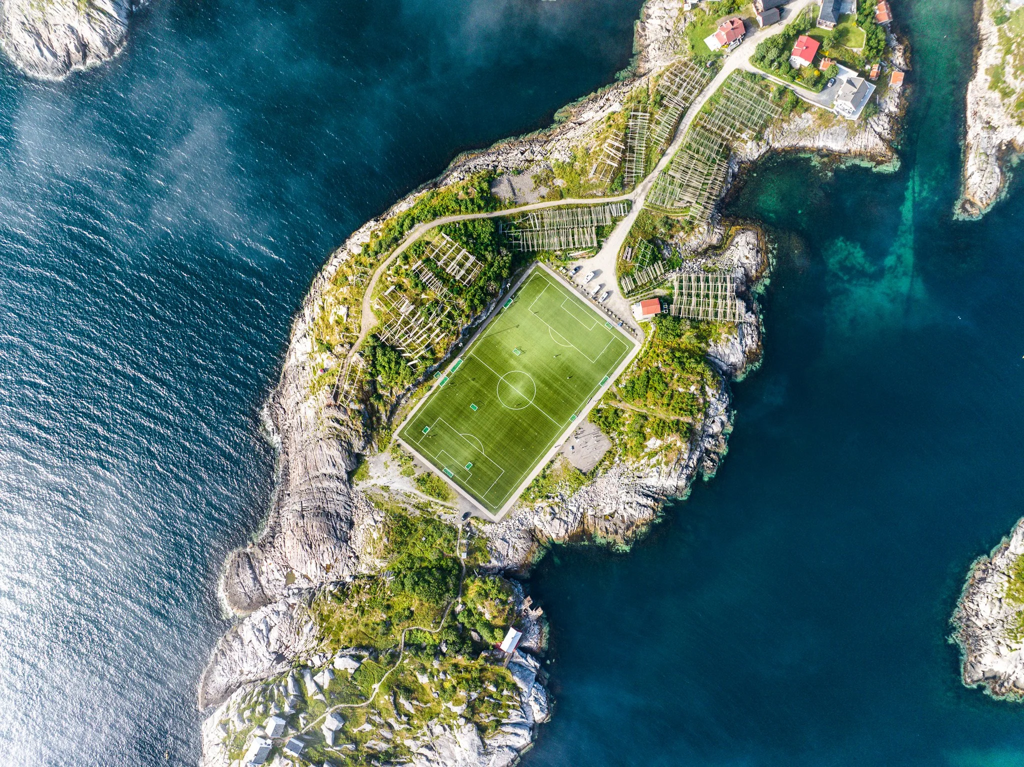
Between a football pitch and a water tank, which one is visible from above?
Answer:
football pitch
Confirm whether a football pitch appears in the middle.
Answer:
Yes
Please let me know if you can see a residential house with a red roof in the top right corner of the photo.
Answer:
Yes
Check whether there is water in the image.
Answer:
Yes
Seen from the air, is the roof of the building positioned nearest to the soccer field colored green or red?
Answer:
red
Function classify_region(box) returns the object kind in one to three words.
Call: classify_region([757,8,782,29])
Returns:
building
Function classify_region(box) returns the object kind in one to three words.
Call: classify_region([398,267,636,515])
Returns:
soccer field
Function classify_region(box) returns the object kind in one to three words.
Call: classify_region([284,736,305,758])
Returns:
shed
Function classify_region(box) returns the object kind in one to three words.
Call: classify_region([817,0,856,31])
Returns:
house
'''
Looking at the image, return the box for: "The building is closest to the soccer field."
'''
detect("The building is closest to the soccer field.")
[631,298,661,322]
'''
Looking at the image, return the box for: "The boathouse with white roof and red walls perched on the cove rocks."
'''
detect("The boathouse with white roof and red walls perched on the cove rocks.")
[496,626,522,654]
